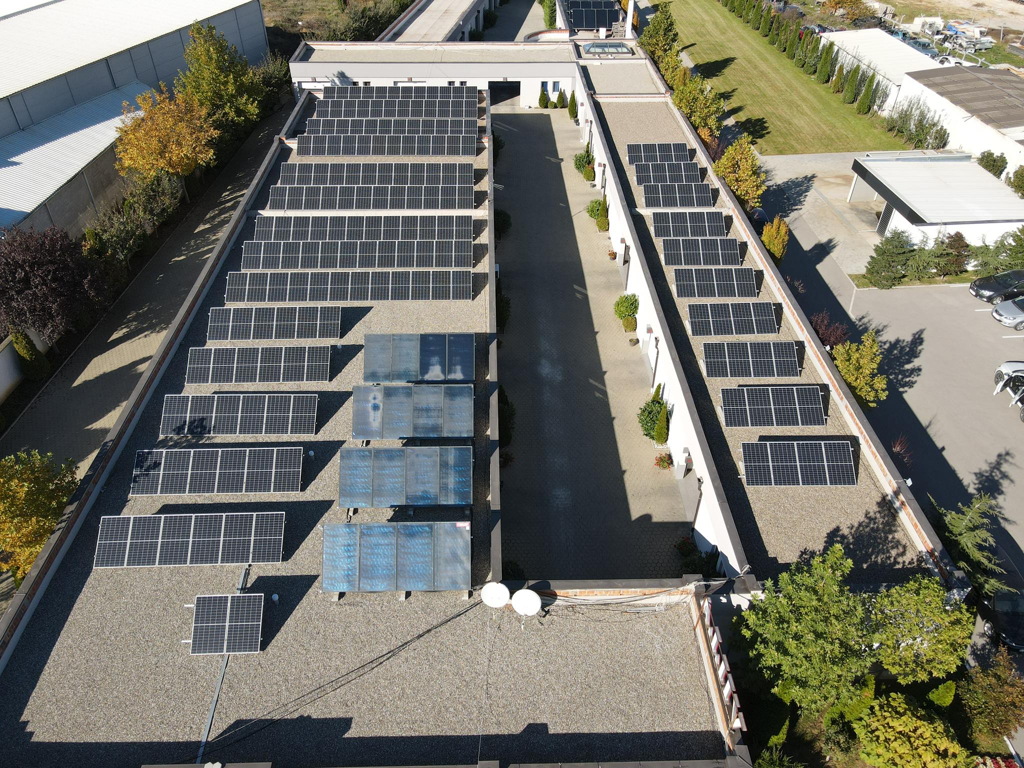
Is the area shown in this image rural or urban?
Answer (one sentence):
The land in this view is best described as urban.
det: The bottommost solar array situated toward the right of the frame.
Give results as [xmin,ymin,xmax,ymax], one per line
[736,443,859,489]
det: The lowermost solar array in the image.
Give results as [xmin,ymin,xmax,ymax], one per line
[172,596,270,656]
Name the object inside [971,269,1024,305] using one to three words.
car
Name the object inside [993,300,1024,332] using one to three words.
car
